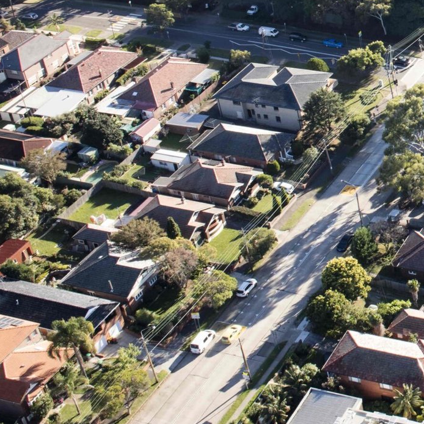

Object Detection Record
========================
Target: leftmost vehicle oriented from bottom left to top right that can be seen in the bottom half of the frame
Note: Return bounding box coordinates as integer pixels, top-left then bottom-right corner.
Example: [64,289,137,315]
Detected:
[189,325,216,356]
